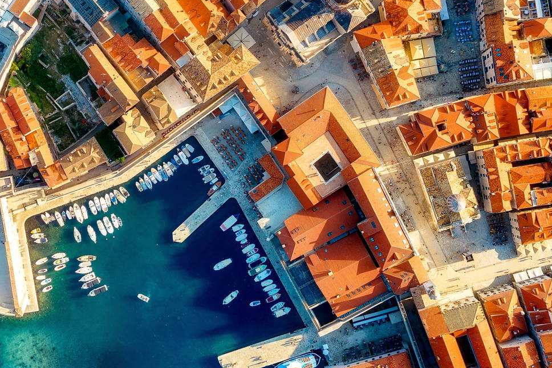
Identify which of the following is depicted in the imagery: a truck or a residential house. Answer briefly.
residential house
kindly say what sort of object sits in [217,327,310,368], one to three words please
pier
